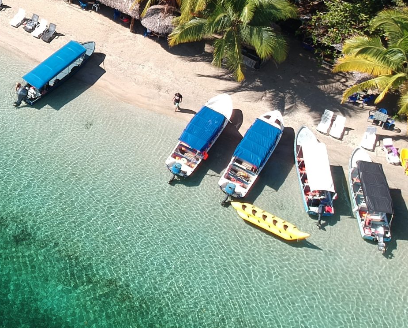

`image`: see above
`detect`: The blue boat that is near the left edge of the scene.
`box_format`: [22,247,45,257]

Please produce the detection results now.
[14,36,95,113]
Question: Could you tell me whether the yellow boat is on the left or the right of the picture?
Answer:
right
